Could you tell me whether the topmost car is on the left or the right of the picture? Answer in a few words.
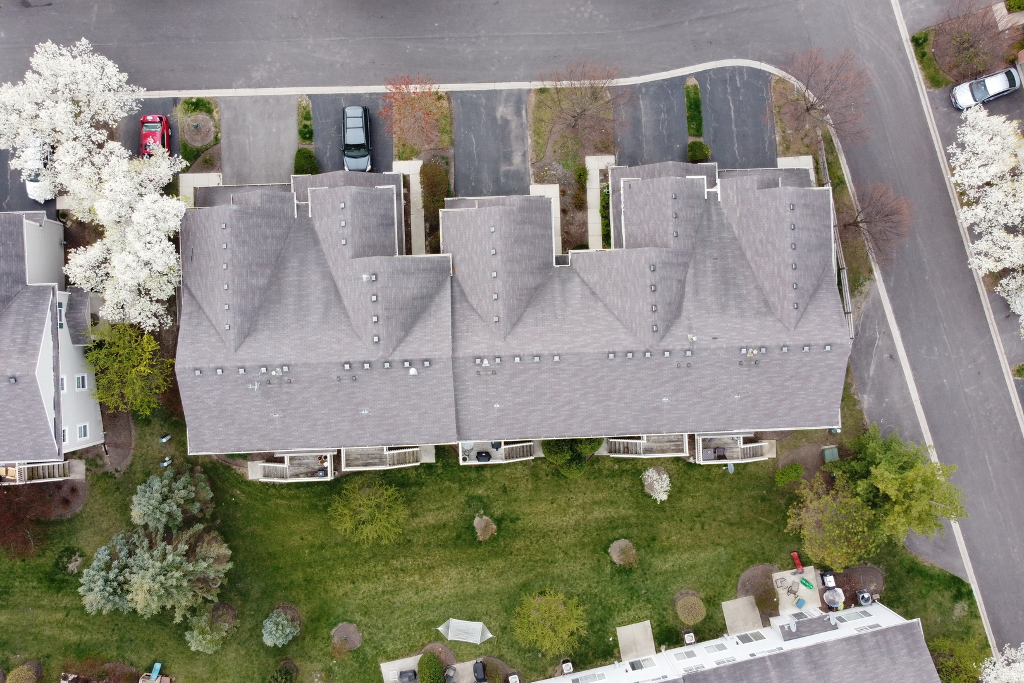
right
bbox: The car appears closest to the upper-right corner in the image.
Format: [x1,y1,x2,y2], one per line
[951,63,1024,109]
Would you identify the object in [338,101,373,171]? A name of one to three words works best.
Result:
car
